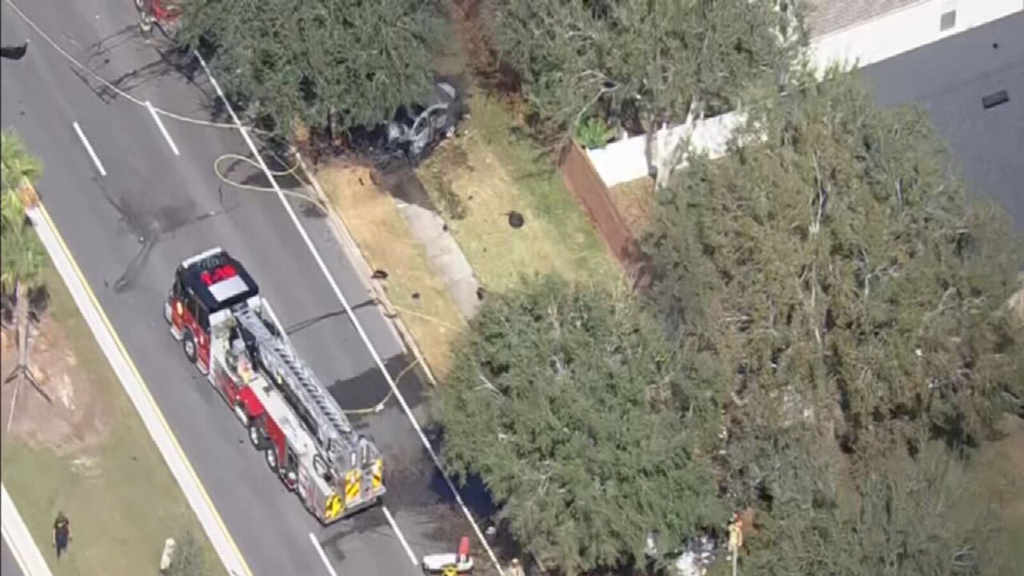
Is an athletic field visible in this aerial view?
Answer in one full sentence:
No, no athletic field is visible in the scene.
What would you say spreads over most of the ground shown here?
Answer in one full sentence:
The scene is dominated by trees.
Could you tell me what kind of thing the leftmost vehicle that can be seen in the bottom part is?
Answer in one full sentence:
Looking closely, the leftmost vehicle that can be seen in the bottom part is a truck.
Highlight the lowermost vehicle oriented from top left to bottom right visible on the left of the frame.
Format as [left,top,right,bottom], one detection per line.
[165,236,382,526]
